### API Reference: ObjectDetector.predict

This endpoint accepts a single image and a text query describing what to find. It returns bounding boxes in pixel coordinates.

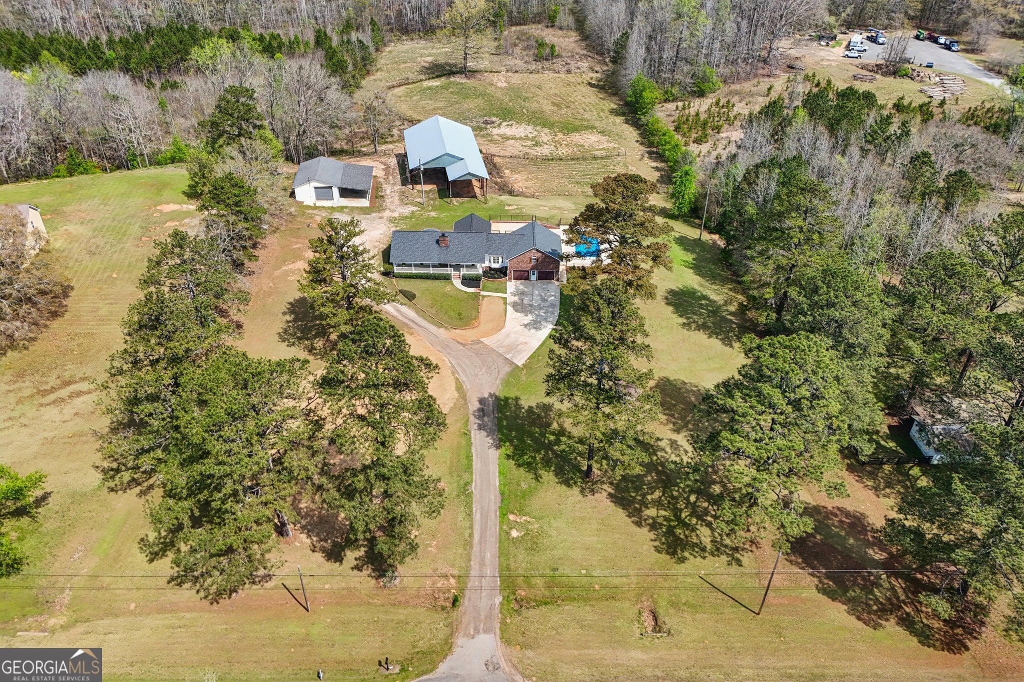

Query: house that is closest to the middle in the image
[390,214,563,282]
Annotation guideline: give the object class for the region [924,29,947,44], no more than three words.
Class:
vehicle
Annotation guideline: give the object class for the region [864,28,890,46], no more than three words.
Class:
vehicle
